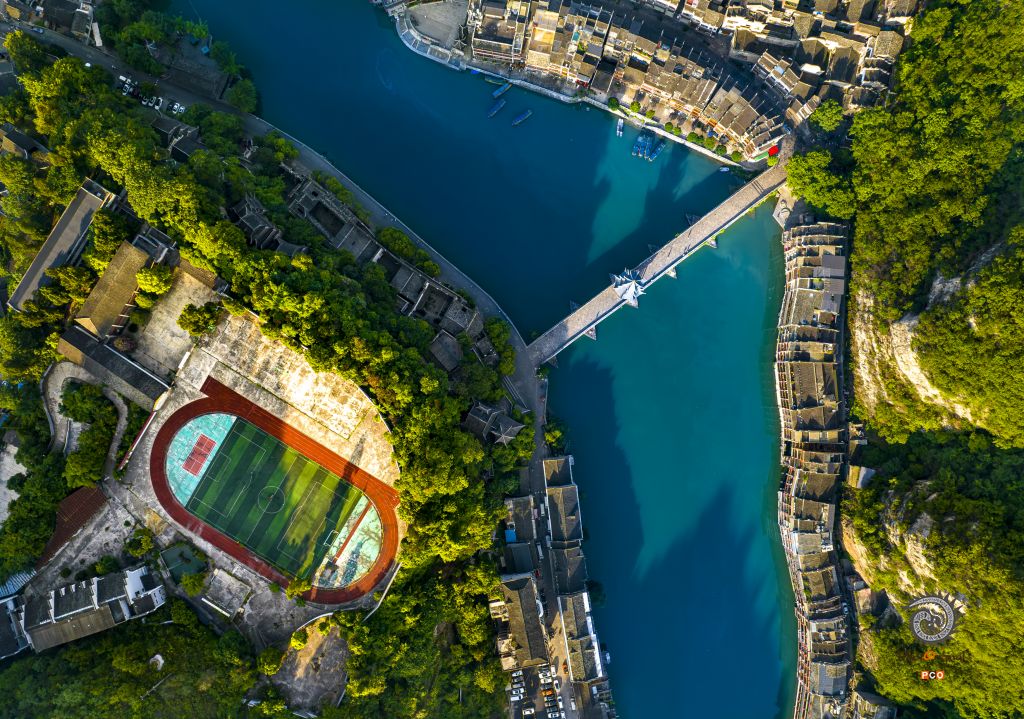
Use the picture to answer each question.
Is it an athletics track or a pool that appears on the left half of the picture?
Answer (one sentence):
Looking on the left half of the picture, you will find an athletics track.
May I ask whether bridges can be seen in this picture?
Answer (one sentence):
Yes, I can see a bridge in this picture.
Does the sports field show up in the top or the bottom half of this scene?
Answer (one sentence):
The sports field sits in the bottom half of the picture.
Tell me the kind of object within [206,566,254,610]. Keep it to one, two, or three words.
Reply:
building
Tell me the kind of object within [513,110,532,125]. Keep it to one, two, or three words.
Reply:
boat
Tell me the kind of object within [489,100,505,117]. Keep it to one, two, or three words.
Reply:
boat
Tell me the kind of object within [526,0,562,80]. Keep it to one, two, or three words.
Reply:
house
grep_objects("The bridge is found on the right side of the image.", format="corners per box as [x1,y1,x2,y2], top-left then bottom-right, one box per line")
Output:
[528,161,796,368]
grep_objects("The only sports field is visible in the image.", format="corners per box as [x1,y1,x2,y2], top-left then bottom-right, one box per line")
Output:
[147,378,402,604]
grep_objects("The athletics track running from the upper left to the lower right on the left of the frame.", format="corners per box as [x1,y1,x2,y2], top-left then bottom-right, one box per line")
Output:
[147,398,402,604]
